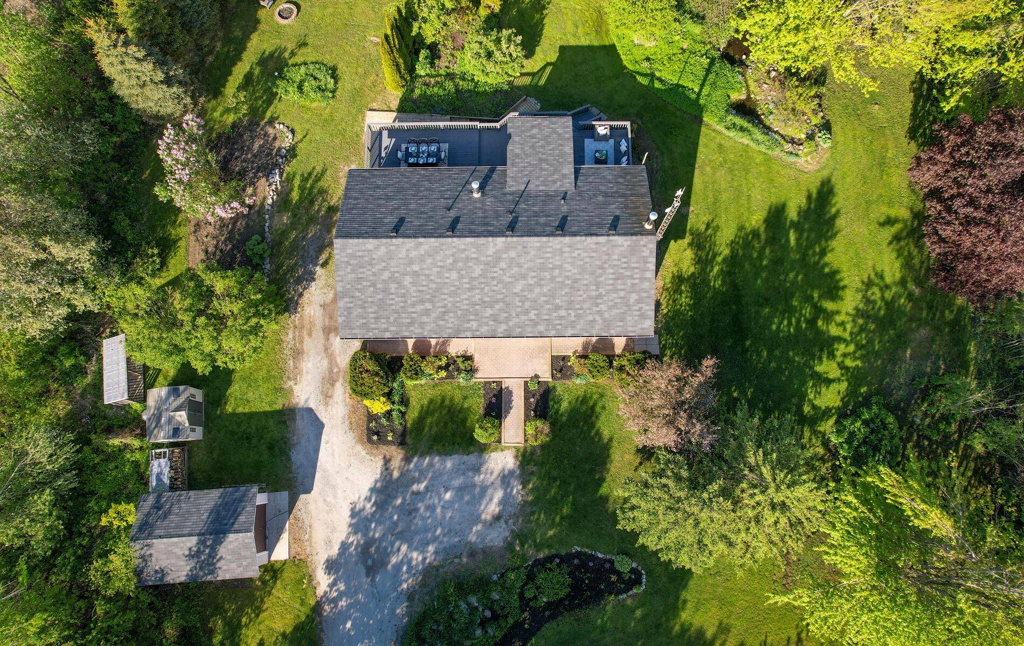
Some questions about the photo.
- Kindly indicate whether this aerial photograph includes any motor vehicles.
No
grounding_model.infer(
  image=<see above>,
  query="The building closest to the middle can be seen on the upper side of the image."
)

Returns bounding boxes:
[334,115,657,342]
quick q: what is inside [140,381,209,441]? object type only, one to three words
shed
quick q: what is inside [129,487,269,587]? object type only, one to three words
building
